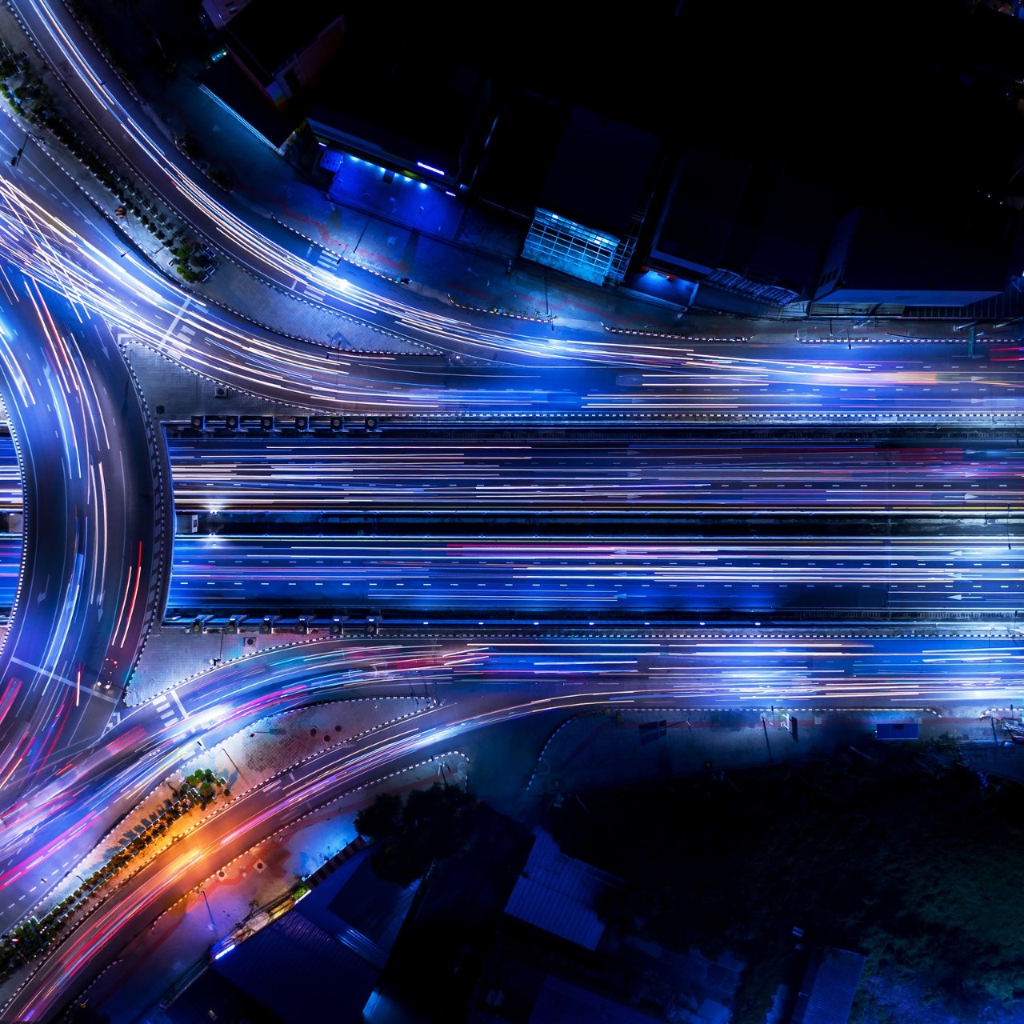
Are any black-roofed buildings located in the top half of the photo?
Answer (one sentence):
Yes, a black-roofed building shows up in the top half of the photo.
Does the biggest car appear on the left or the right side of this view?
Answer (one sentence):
The biggest car appears in the left half of the scene.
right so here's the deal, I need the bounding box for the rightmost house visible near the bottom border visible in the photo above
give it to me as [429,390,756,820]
[793,927,866,1024]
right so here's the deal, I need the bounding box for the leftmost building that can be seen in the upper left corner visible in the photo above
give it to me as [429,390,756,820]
[100,0,184,58]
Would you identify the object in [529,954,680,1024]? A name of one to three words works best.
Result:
house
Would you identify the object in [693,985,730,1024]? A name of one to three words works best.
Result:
shed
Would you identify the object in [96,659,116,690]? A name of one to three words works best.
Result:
car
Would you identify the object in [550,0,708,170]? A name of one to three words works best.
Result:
building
